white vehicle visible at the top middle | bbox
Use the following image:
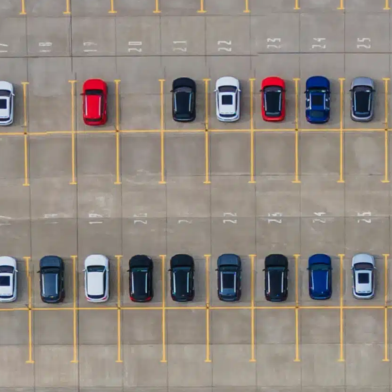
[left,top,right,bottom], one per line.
[214,78,240,122]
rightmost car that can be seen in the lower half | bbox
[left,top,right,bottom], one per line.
[350,254,376,299]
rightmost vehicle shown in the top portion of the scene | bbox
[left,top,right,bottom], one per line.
[350,78,375,122]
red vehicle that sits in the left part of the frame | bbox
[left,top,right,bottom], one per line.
[81,80,107,127]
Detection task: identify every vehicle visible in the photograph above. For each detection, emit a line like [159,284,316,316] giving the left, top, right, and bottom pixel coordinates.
[169,255,195,302]
[214,78,240,122]
[350,254,376,299]
[216,255,242,302]
[38,256,64,304]
[306,254,334,301]
[81,80,107,127]
[350,78,375,122]
[263,255,289,302]
[0,256,17,303]
[0,81,15,127]
[259,78,286,122]
[170,78,197,122]
[83,255,110,303]
[304,77,331,125]
[128,255,153,303]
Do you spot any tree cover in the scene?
No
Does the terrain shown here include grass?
No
